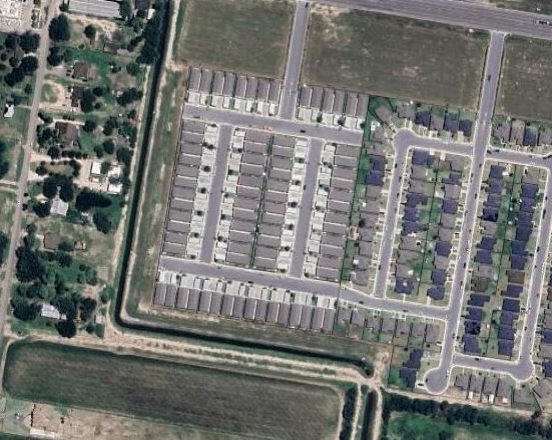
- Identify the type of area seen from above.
residential area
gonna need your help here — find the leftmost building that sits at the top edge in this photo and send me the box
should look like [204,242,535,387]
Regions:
[0,0,21,21]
